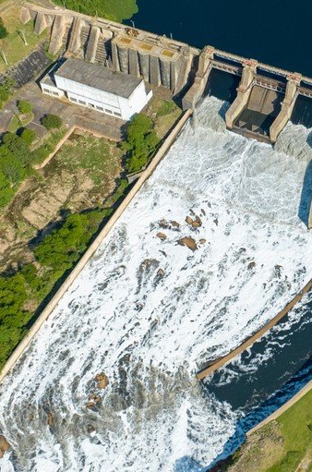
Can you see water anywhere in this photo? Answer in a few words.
Yes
